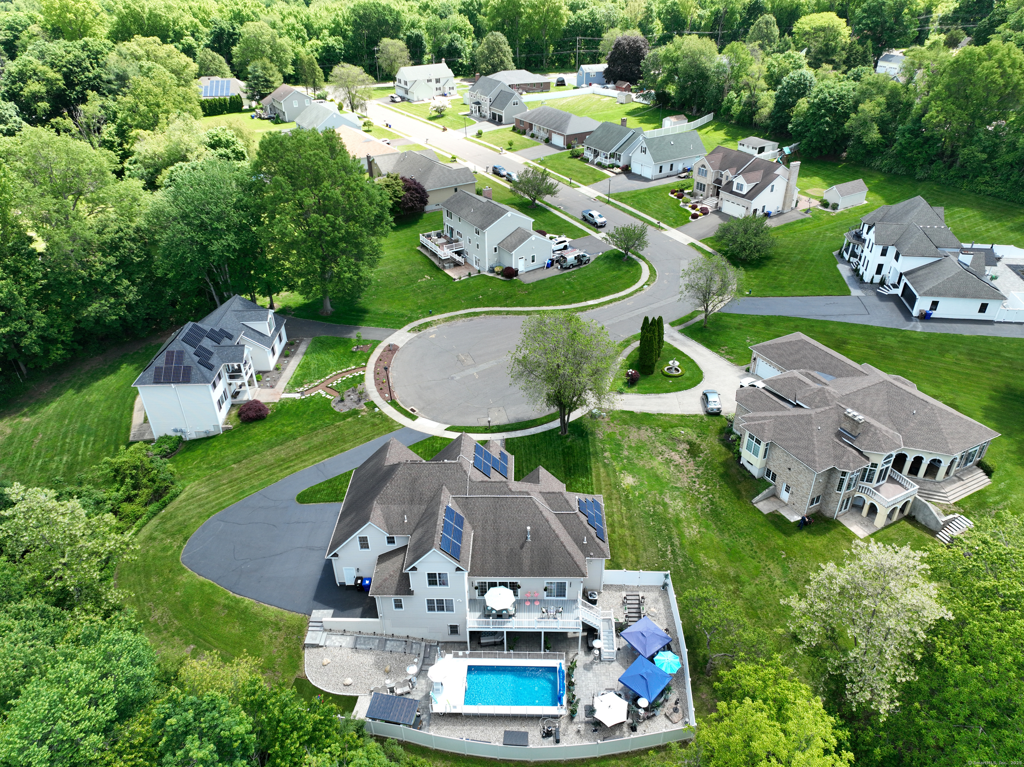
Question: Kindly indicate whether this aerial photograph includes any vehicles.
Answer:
Yes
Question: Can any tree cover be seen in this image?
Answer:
Yes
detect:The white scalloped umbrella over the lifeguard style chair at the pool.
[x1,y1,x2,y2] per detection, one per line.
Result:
[426,664,455,690]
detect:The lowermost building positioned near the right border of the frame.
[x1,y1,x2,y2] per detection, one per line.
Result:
[725,332,1002,544]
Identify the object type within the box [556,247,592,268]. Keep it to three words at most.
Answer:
vehicle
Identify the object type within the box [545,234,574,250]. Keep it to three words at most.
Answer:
car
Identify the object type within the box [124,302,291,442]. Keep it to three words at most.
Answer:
house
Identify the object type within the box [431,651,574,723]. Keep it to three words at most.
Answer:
swimming pool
